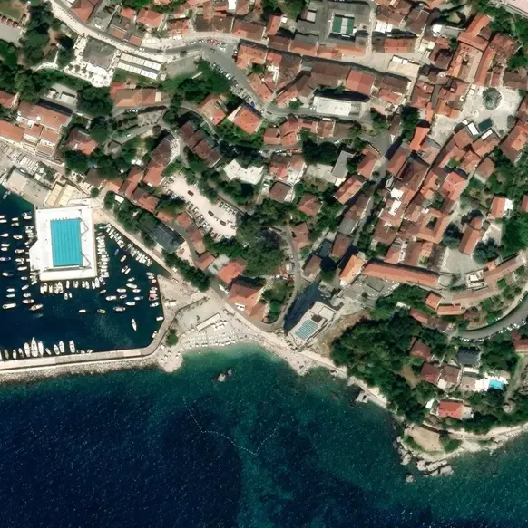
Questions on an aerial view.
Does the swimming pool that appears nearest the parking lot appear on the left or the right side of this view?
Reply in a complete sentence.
The swimming pool that appears nearest the parking lot sits on the left side.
